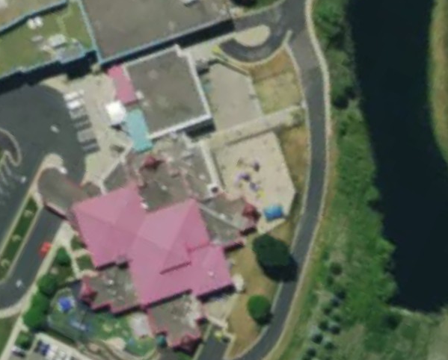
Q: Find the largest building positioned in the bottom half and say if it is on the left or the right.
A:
left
